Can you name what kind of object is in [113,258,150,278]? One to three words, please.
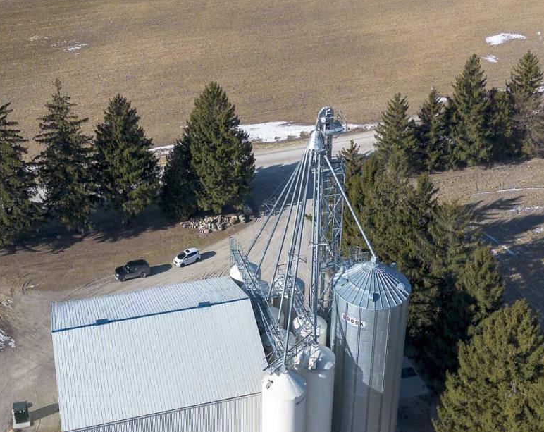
car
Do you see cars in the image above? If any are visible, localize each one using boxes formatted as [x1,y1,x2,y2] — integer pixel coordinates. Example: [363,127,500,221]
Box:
[173,247,203,266]
[113,258,150,278]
